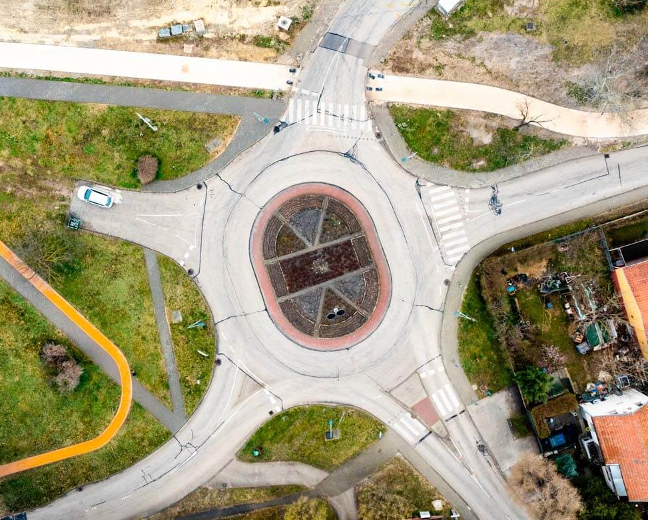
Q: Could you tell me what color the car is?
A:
white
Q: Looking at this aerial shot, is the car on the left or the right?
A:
left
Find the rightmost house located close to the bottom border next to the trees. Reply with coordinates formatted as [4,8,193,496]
[577,389,648,502]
